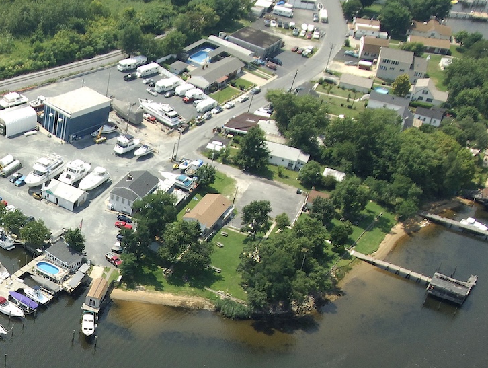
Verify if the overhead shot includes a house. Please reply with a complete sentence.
Yes, you can see a house in this photo.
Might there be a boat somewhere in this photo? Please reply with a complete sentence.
Yes, the frame does contain a boat.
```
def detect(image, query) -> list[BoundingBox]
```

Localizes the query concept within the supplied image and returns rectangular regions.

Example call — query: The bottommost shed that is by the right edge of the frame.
[424,272,470,309]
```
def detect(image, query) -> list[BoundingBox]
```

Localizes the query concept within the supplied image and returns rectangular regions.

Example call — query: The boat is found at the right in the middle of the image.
[456,208,488,231]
